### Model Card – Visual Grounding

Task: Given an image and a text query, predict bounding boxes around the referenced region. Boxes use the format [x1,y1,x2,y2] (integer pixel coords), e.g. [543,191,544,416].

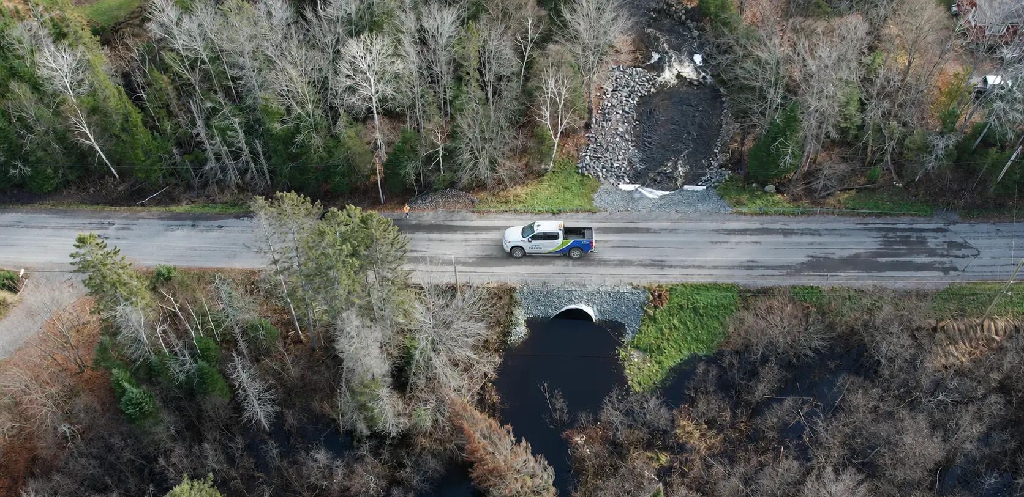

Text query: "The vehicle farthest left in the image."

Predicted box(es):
[500,219,596,258]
